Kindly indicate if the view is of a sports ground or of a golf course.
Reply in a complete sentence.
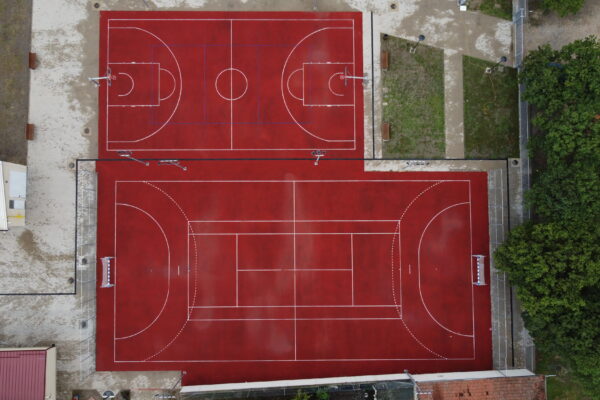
The picture captures a sports ground.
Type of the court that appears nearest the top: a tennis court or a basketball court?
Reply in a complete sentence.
I'd say the court that appears nearest the top is a basketball court.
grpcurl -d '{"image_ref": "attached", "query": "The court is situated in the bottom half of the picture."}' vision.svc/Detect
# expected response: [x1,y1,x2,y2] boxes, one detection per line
[96,160,492,387]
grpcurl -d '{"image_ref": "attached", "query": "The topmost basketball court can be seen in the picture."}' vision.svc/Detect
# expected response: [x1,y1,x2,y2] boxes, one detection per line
[98,11,364,159]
